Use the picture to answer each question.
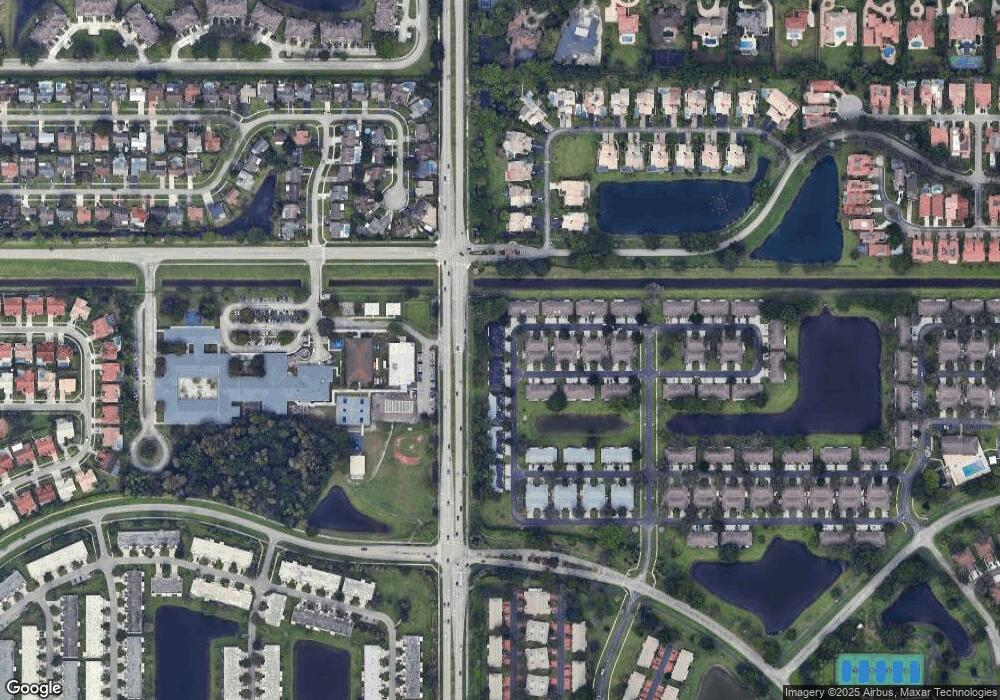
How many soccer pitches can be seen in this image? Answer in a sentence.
The picture shows no soccer pitches.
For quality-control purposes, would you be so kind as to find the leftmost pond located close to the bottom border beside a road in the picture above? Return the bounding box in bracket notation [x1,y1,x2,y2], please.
[151,605,239,700]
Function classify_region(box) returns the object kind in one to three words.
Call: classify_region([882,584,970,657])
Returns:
pond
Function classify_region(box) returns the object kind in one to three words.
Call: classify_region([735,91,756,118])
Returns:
house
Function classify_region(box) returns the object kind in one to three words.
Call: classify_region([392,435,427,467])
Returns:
baseball field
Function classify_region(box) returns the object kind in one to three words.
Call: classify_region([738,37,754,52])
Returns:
swimming pool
